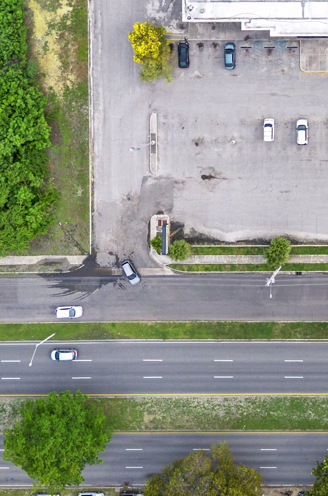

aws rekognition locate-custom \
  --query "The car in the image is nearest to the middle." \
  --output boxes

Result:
[120,260,140,283]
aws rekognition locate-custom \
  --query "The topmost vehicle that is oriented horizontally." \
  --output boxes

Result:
[55,306,83,319]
